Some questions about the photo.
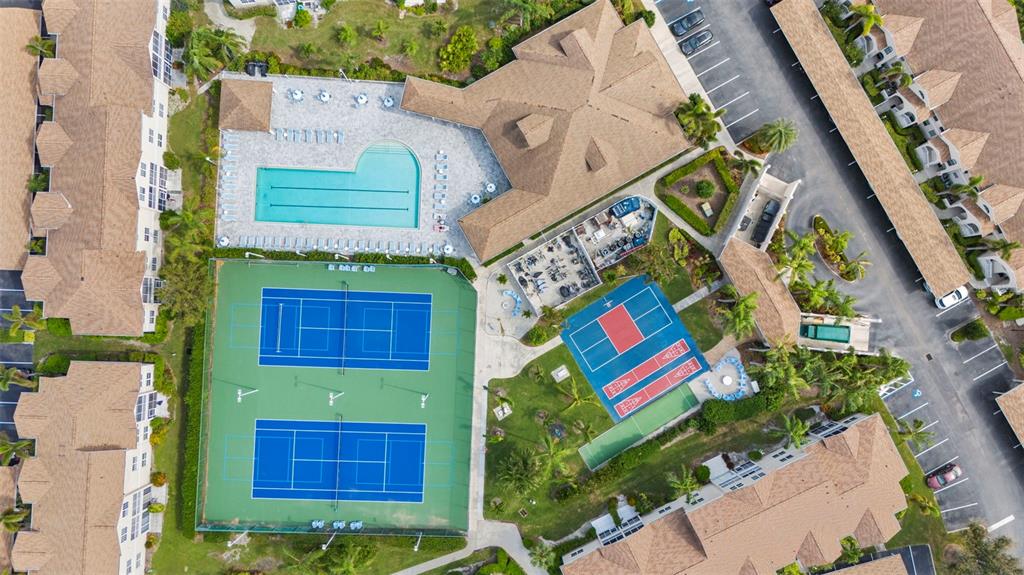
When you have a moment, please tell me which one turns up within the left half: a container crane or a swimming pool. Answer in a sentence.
What appears within the left half is a swimming pool.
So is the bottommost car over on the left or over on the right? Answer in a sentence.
It is on the right.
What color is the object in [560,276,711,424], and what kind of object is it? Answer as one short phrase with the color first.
blue sports court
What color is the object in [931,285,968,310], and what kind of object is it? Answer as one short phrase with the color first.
white car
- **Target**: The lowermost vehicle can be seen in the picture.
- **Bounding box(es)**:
[925,462,961,488]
